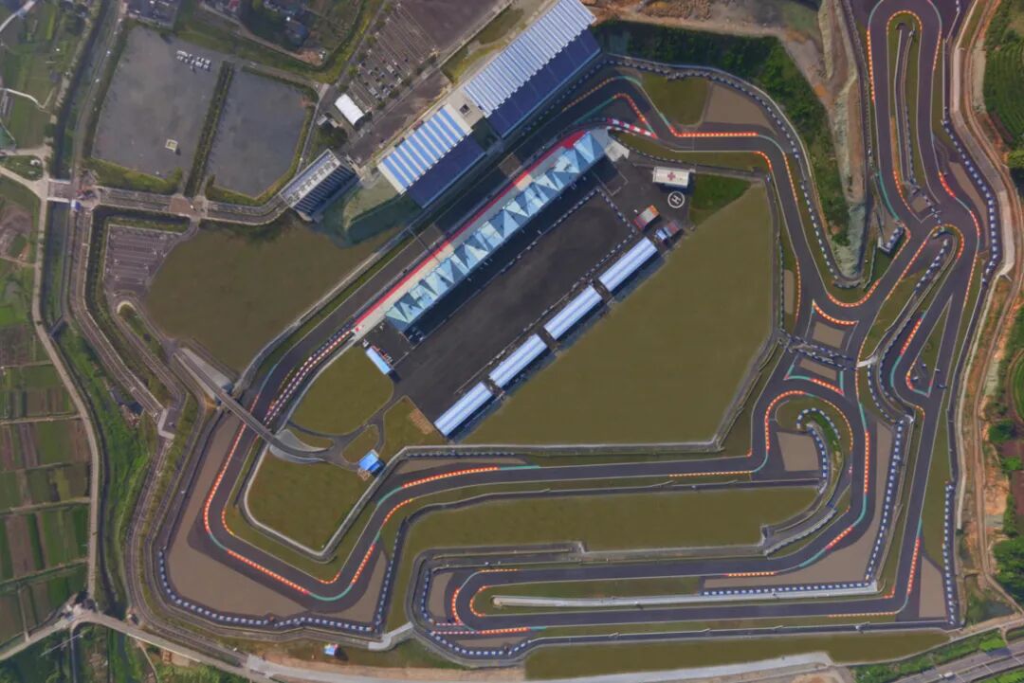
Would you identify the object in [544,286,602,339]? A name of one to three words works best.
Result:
shed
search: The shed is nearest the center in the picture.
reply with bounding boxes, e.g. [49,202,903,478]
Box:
[489,335,546,388]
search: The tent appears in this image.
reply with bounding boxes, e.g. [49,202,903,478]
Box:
[334,93,365,126]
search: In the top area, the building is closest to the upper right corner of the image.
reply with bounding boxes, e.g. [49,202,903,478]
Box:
[652,166,697,189]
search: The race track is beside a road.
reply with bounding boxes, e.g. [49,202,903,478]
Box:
[206,0,979,632]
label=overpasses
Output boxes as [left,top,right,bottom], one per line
[174,349,325,464]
